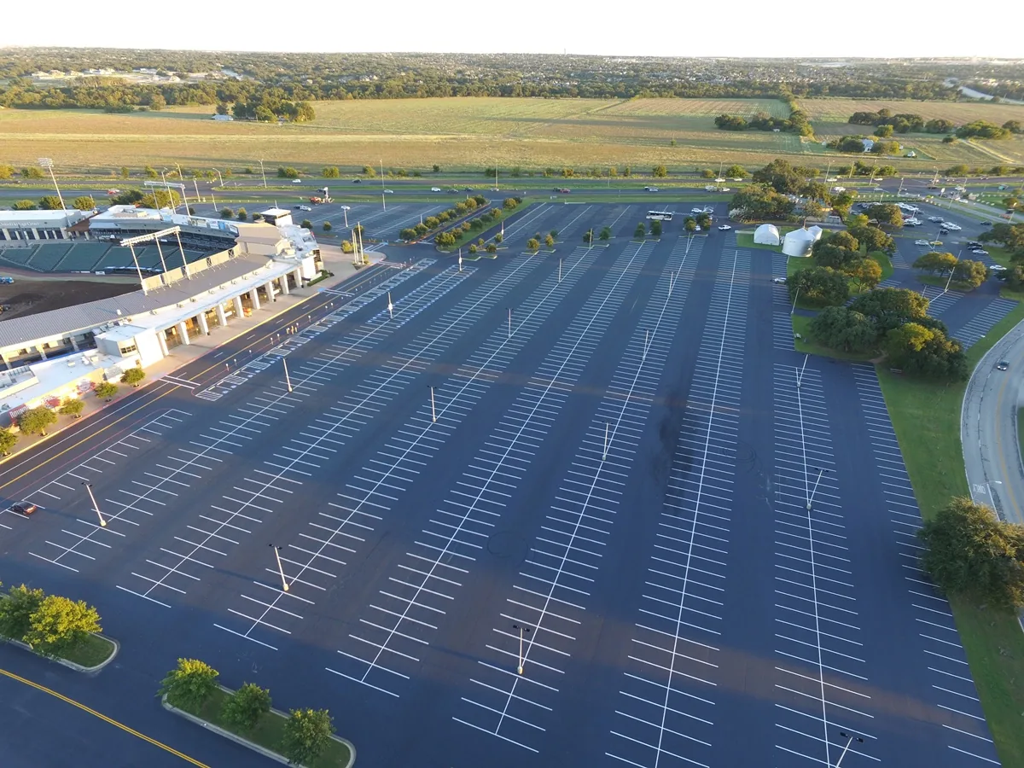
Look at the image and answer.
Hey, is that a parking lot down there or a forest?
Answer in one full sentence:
This image shows a parking lot.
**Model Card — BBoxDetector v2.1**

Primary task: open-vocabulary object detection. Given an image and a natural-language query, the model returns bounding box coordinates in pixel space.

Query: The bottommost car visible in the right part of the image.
[995,358,1010,370]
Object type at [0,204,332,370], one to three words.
stadium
